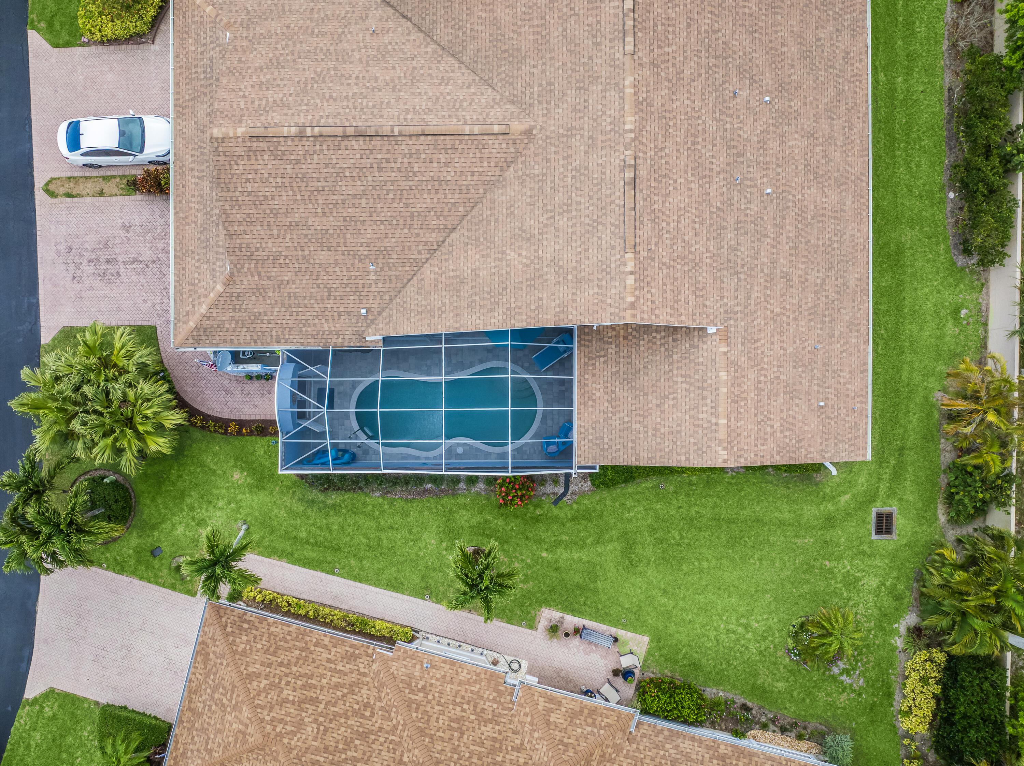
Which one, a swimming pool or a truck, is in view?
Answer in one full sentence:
Looking from above, you can make out a swimming pool.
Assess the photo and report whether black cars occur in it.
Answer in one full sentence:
No, the photo shows no black car.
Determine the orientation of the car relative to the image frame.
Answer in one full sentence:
From this overhead view, the car appears to run from side to side.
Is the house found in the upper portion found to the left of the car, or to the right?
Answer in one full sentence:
It is on the right side of the car that the house found in the upper portion is positioned.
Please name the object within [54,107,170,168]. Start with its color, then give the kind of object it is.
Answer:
white car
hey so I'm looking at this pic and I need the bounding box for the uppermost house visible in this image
[170,0,871,471]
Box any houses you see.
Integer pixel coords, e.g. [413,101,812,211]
[162,598,841,766]
[170,0,871,471]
